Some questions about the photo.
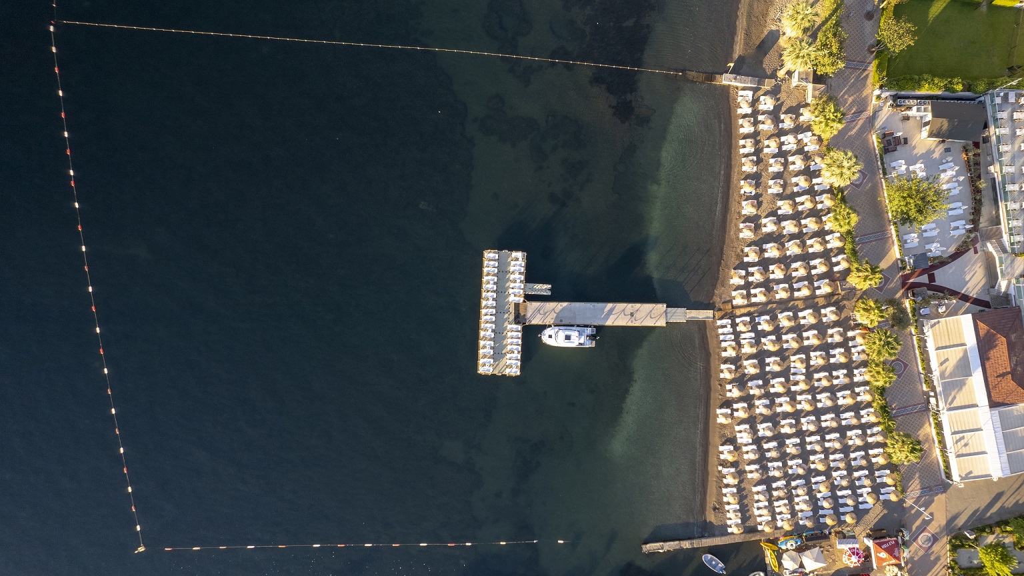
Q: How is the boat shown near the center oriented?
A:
from side to side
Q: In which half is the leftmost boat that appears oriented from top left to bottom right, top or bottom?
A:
bottom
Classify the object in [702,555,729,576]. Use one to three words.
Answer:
boat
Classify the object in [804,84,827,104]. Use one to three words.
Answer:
building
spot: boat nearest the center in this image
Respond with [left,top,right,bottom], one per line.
[538,324,601,347]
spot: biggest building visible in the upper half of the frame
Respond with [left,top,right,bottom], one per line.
[895,101,987,145]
